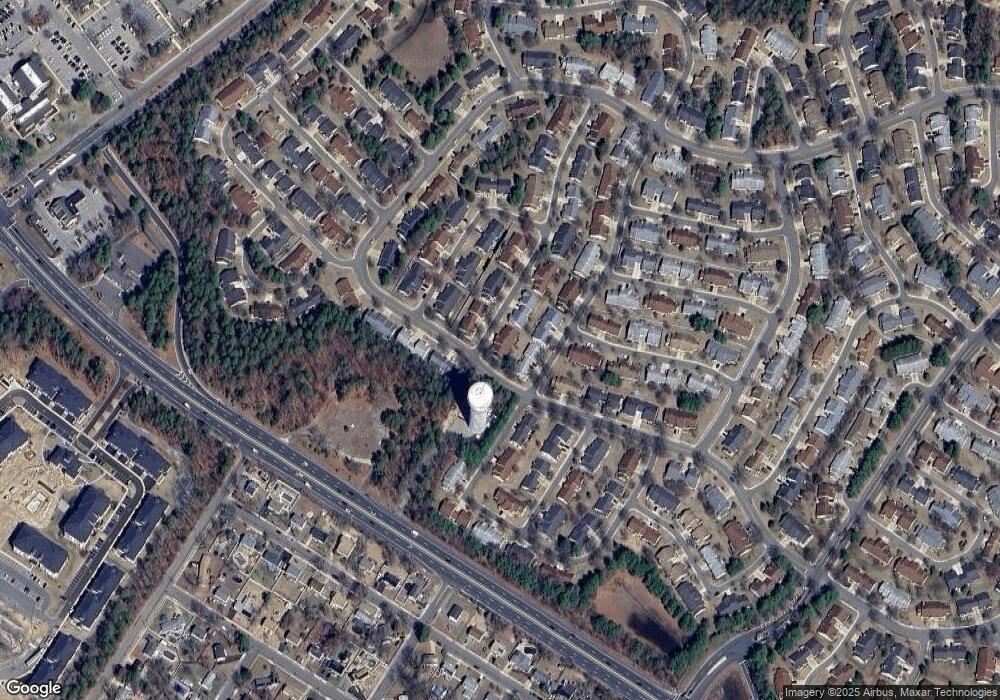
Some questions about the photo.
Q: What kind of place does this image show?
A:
residential area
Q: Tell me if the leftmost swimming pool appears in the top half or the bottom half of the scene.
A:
bottom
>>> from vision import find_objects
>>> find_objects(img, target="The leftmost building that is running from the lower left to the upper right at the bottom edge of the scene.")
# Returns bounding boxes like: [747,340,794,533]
[24,635,77,696]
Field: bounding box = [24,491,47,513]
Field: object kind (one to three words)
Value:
swimming pool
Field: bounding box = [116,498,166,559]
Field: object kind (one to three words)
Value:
building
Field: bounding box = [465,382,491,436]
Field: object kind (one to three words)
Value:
water tower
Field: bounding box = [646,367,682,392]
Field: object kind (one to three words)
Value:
house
